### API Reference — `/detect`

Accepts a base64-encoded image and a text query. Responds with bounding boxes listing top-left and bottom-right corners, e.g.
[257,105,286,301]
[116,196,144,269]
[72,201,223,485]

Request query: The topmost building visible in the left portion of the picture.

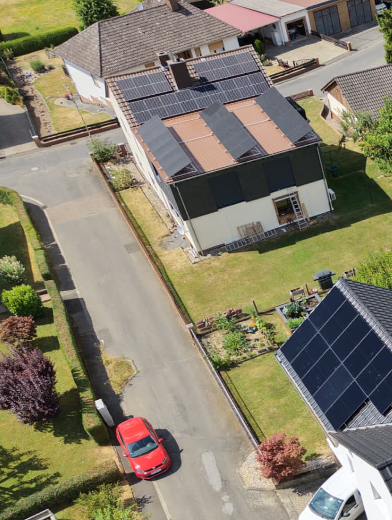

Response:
[58,0,243,106]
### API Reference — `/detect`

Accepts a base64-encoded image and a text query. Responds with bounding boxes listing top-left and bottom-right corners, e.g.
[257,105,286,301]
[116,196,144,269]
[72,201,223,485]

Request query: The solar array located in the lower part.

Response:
[284,285,392,432]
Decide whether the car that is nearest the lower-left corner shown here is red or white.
red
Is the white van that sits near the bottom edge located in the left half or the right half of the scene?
right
